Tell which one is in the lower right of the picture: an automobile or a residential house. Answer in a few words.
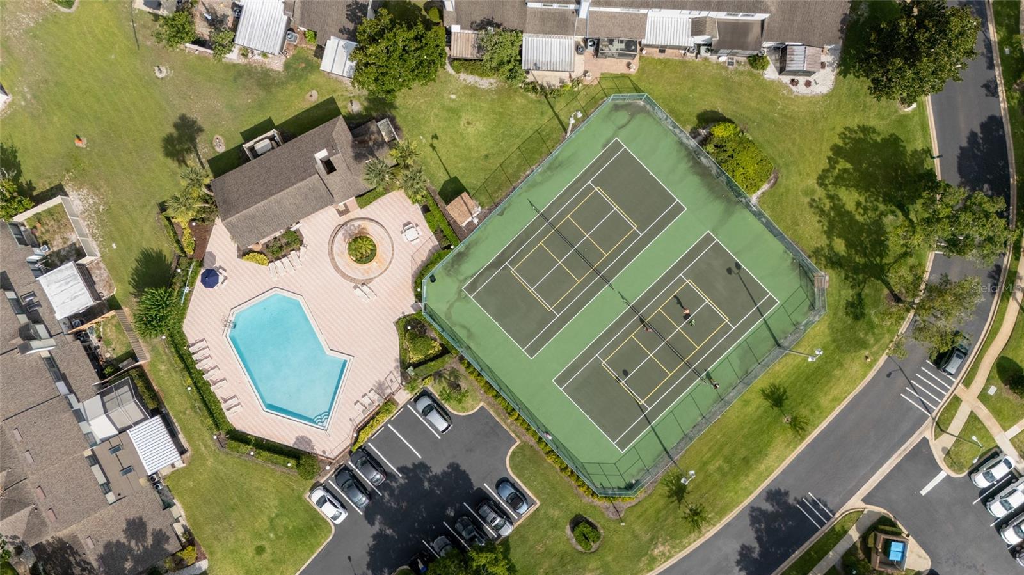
automobile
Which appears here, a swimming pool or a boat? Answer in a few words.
swimming pool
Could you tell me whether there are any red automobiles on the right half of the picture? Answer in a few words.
No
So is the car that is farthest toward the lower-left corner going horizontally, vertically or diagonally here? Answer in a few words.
diagonally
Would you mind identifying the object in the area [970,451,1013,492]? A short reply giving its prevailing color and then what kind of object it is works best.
white car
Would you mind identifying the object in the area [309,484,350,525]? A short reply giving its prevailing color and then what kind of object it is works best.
white car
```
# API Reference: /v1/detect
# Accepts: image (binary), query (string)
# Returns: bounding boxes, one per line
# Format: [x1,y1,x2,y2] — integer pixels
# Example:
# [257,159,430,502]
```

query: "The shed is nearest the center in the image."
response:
[446,192,480,226]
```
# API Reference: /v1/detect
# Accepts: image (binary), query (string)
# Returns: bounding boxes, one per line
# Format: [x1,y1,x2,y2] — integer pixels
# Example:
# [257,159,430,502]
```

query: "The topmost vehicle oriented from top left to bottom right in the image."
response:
[414,392,453,433]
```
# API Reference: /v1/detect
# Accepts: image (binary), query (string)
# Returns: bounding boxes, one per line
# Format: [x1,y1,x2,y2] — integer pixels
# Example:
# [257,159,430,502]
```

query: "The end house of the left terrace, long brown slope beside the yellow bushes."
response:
[20,490,187,575]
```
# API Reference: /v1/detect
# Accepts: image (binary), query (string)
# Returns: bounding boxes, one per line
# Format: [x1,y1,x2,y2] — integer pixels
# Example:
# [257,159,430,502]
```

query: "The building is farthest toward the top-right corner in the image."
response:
[762,0,851,76]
